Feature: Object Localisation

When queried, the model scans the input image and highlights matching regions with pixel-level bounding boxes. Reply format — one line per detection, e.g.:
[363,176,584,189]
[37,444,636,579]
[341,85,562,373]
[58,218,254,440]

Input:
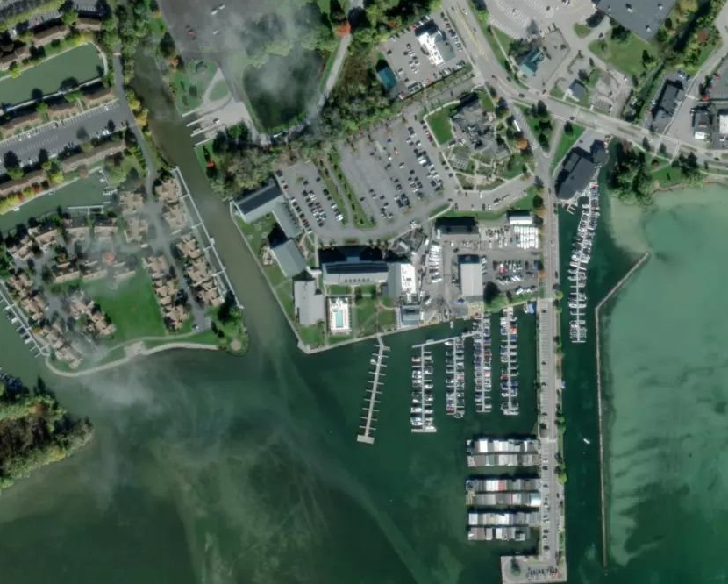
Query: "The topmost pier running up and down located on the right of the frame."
[570,184,595,342]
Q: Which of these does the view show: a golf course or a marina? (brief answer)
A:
marina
